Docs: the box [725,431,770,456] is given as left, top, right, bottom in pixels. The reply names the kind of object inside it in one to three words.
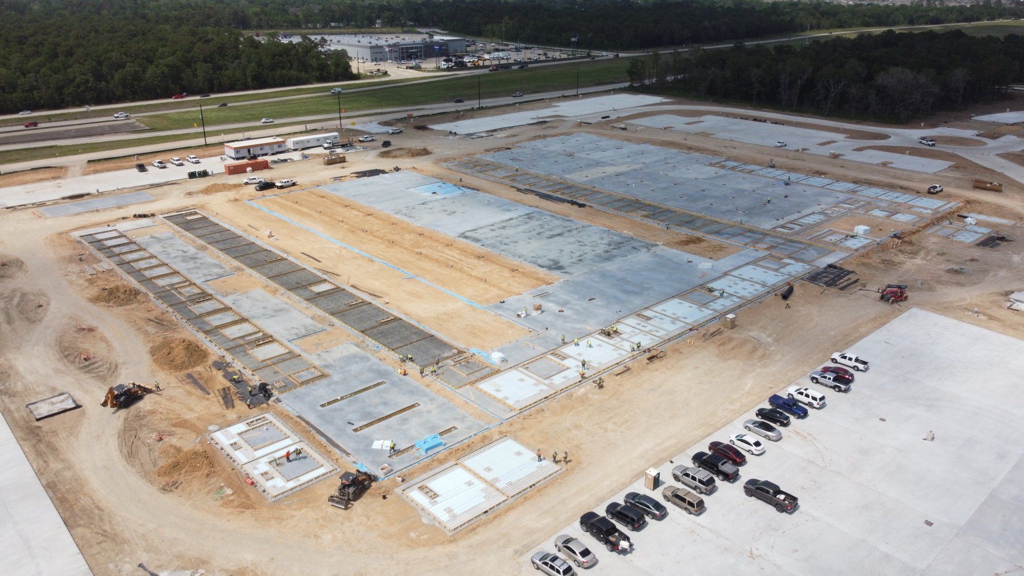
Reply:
car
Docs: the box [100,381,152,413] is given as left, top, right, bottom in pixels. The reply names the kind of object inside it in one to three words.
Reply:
work vehicle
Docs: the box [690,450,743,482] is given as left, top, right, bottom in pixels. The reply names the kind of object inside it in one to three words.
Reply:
truck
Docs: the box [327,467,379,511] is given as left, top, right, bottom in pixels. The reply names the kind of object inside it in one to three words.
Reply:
work vehicle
